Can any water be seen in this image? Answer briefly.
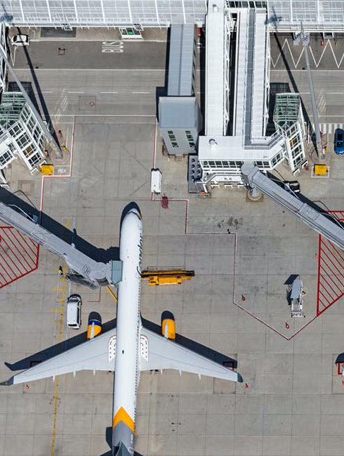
No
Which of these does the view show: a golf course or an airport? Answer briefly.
airport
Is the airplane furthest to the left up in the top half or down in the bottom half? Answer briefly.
bottom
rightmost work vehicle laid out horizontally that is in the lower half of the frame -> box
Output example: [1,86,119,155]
[139,271,195,285]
